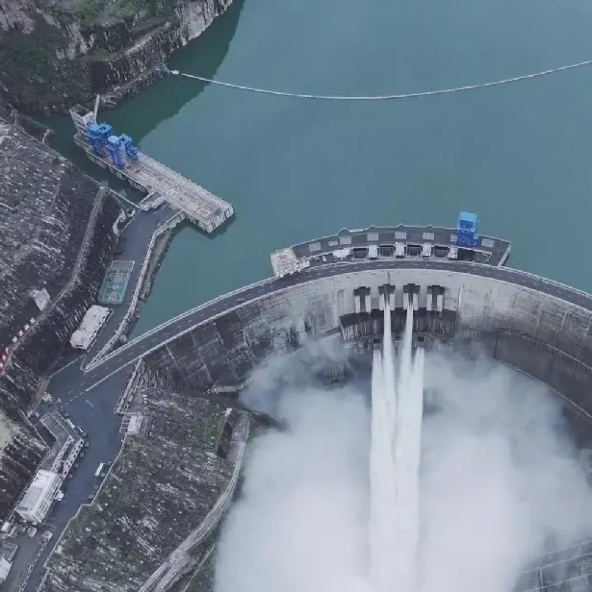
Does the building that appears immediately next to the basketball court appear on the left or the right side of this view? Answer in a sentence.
The building that appears immediately next to the basketball court sits on the left side.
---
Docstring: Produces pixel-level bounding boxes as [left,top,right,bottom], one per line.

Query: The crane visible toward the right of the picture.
[457,218,478,249]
